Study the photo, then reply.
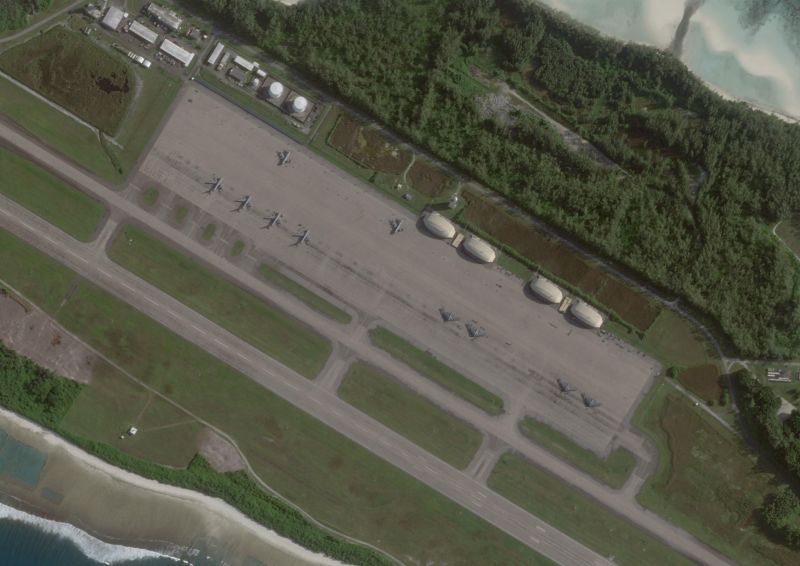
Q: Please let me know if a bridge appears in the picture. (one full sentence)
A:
No, the frame has no bridge in it.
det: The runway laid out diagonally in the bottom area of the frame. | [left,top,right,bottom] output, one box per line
[0,193,618,566]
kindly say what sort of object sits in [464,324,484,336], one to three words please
airplane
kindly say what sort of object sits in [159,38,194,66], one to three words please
building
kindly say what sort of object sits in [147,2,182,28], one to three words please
building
